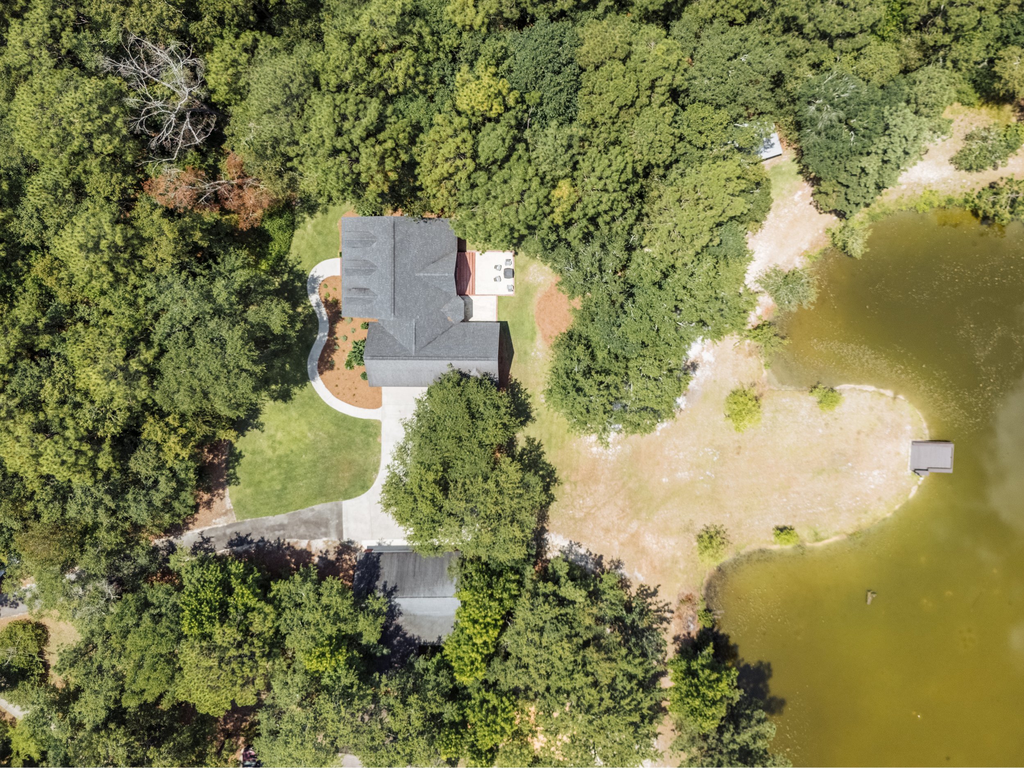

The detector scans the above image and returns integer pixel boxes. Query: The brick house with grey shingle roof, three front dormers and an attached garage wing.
[342,216,499,386]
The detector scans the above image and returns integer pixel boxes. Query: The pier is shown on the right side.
[907,438,954,481]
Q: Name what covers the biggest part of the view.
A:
trees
